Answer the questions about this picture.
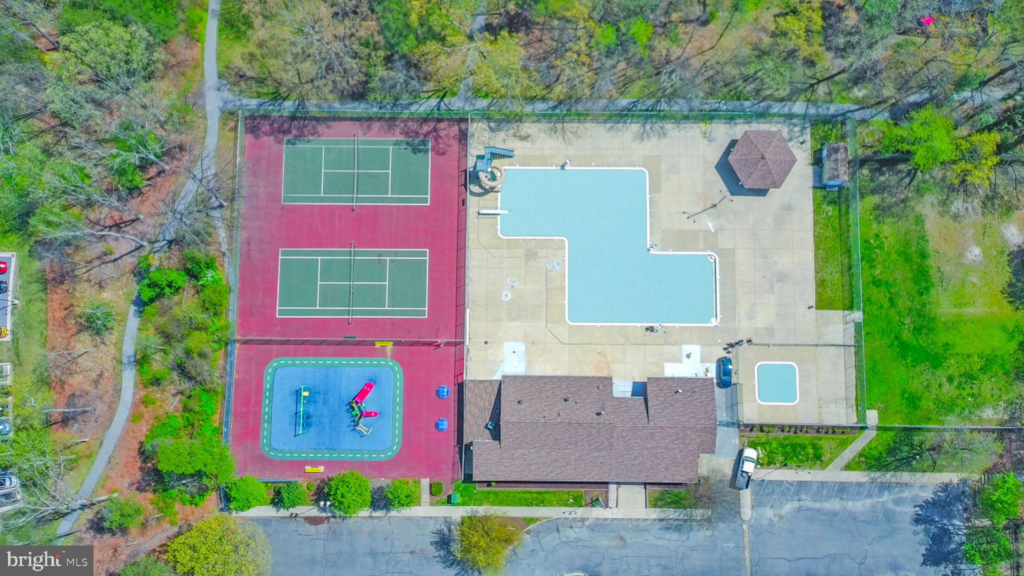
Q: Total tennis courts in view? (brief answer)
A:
two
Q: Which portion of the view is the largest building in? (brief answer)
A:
bottom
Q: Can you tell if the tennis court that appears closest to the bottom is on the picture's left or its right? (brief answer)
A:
left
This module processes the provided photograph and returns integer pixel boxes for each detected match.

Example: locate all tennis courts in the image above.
[277,248,429,318]
[282,138,431,205]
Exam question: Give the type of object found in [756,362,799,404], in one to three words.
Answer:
swimming pool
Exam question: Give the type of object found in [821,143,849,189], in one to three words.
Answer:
shed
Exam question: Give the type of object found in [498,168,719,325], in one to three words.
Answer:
swimming pool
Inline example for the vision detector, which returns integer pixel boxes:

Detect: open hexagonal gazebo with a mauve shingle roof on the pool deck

[728,130,797,188]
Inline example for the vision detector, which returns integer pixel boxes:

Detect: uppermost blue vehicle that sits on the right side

[716,356,732,389]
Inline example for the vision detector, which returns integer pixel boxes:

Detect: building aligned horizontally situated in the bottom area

[463,375,717,484]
